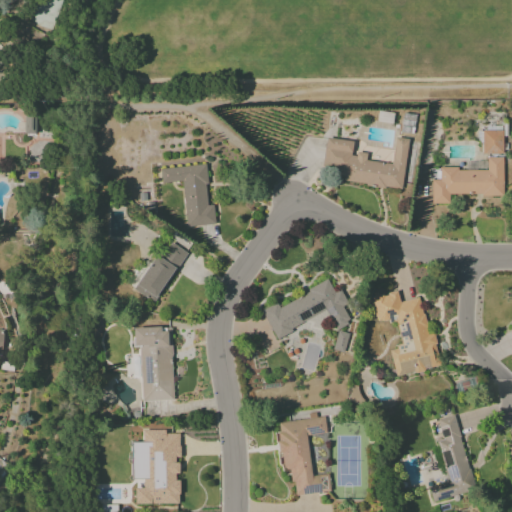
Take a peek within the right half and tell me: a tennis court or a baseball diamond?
tennis court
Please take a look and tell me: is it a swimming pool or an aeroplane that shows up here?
swimming pool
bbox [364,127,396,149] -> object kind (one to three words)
swimming pool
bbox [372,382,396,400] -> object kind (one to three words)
swimming pool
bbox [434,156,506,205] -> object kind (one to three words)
house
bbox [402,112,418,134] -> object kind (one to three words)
greenhouse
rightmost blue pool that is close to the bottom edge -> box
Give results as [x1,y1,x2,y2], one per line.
[402,457,424,488]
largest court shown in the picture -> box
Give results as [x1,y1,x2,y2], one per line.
[332,424,367,499]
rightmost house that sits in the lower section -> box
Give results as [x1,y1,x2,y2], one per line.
[430,414,476,505]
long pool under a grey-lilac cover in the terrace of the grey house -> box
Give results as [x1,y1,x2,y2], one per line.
[302,342,322,372]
